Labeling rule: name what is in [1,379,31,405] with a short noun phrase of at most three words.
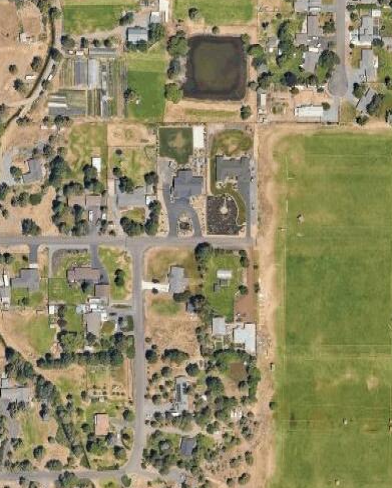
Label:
house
